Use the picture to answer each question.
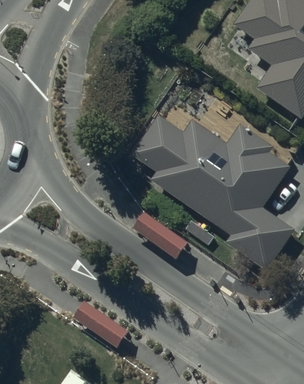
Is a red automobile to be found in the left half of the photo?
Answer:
No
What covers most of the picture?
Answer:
paved ground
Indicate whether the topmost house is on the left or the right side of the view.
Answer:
right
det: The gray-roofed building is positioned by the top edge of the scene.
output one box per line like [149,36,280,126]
[234,0,304,120]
